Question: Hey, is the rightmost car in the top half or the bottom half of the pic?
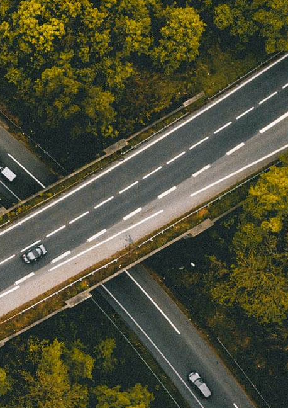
bottom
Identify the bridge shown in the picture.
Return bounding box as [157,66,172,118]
[0,91,249,348]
